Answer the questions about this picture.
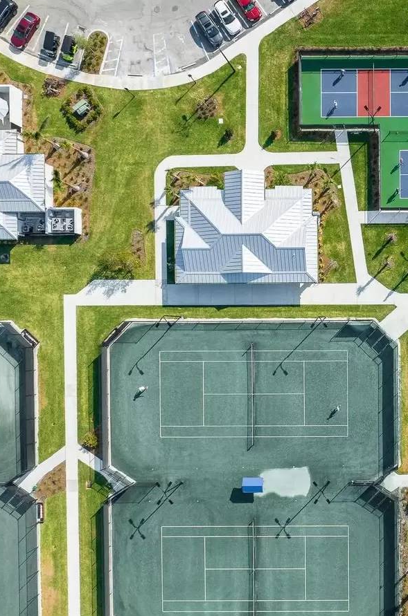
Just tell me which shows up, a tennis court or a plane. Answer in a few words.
tennis court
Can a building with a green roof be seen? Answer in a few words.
No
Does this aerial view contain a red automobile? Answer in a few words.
Yes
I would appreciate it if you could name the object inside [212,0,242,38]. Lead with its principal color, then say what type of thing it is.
white car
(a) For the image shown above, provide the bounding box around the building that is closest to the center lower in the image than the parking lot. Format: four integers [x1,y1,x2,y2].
[164,166,318,284]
